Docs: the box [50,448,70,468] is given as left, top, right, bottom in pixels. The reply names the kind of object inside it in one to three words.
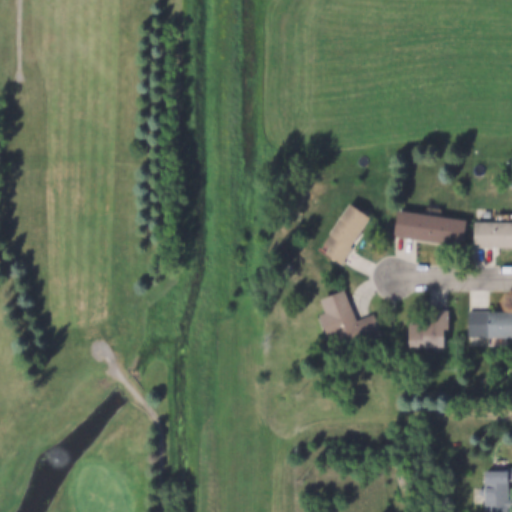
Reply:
fountain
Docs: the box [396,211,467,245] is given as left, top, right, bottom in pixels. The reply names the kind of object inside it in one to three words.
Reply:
house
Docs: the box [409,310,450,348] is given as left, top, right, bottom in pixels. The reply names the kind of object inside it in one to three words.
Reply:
house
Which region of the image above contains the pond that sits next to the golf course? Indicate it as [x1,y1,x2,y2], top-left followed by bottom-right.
[18,390,124,512]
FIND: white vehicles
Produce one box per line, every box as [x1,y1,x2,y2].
[416,266,429,272]
[406,240,412,253]
[503,267,512,274]
[416,286,426,291]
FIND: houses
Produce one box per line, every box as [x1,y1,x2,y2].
[320,205,370,264]
[474,222,512,248]
[485,471,512,512]
[409,310,450,348]
[396,211,467,245]
[316,290,380,336]
[469,312,512,339]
